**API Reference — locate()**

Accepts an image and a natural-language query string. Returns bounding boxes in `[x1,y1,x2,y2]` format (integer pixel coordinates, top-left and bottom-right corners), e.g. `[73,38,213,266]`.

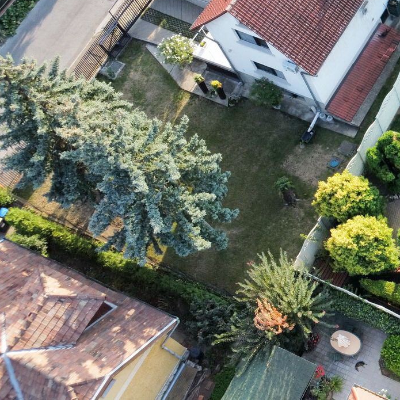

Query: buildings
[170,0,400,125]
[215,344,321,400]
[0,242,194,400]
